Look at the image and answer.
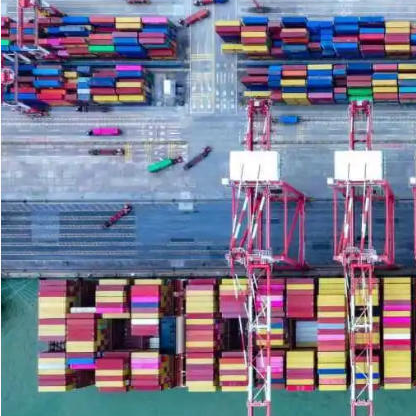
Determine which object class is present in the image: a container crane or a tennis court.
container crane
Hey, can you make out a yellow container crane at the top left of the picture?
No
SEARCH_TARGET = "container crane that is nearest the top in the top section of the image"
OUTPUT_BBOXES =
[13,0,67,64]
